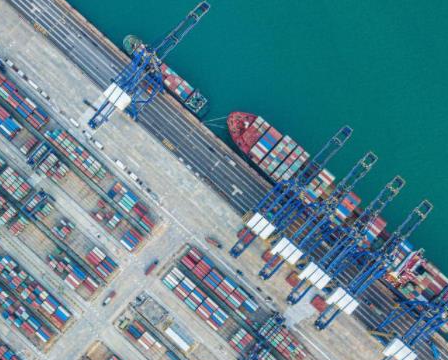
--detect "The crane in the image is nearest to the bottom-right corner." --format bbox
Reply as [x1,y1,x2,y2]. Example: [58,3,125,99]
[368,289,448,360]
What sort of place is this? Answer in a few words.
port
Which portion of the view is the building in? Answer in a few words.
bottom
